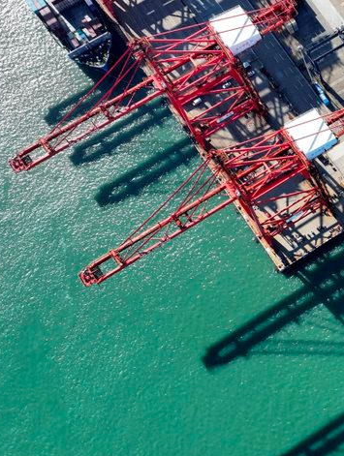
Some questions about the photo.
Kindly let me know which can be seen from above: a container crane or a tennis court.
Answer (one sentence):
There is a container crane in the scene.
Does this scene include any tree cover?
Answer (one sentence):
No, the scene doesn't show any tree cover.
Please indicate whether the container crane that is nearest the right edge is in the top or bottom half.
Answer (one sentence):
The container crane that is nearest the right edge sits in the top half of the picture.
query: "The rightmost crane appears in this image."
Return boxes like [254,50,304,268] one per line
[296,14,344,83]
